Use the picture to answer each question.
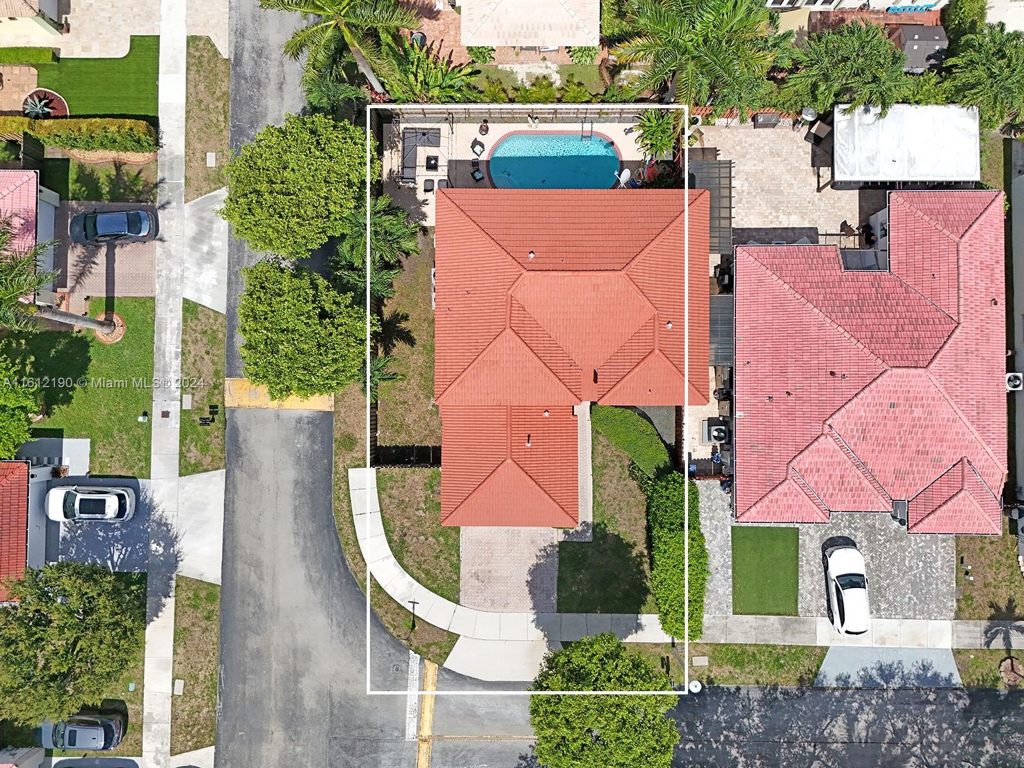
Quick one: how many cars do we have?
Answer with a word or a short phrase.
4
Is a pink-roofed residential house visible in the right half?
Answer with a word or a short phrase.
Yes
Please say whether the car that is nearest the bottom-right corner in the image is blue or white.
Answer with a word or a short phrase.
white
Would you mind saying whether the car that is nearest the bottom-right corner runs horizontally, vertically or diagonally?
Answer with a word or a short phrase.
vertically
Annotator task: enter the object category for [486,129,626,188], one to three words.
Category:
swimming pool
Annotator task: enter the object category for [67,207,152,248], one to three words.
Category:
car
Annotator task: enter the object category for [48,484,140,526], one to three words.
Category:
car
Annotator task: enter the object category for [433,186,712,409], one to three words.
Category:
house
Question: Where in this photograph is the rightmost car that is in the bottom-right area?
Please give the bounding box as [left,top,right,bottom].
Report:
[825,540,873,631]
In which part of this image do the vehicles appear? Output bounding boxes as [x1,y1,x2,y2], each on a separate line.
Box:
[825,540,873,631]
[48,484,140,526]
[67,207,152,248]
[43,708,129,754]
